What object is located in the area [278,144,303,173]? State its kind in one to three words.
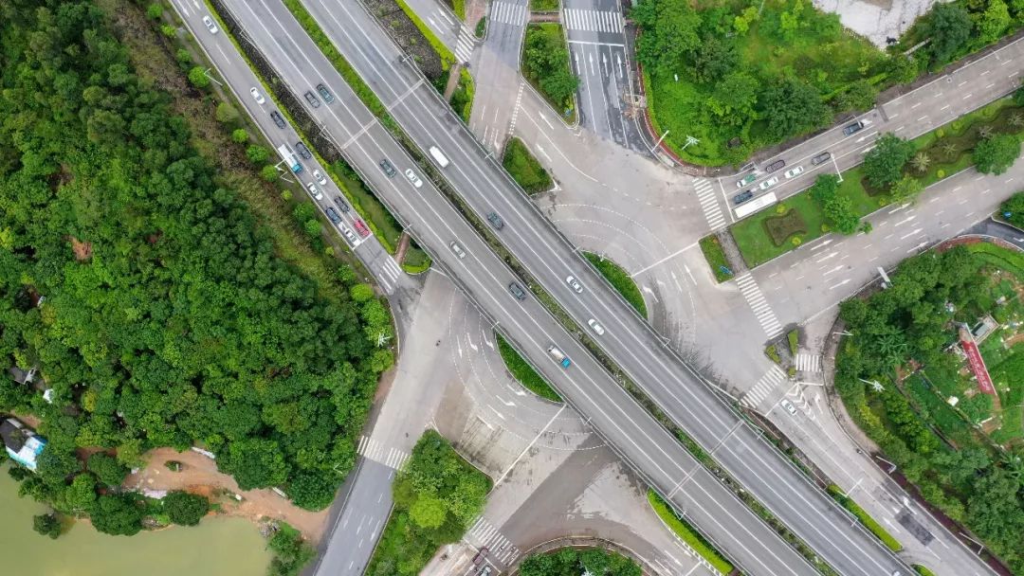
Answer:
truck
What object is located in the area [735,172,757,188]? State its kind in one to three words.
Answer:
vehicle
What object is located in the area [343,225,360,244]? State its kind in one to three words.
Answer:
car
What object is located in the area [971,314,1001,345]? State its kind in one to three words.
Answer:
shed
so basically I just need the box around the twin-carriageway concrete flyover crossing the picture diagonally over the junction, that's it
[214,0,921,576]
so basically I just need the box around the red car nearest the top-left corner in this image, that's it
[354,218,370,236]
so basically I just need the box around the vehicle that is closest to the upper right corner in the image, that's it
[841,120,864,136]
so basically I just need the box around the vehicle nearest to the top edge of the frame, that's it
[202,15,219,34]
